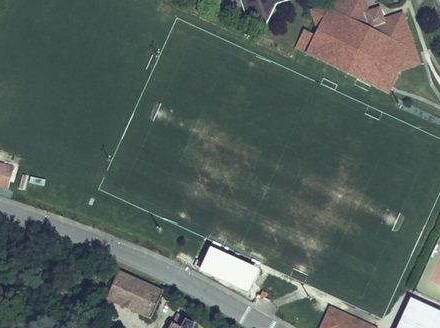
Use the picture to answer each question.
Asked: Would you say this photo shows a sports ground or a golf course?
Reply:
sports ground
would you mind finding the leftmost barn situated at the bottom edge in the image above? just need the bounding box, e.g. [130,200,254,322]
[108,268,161,318]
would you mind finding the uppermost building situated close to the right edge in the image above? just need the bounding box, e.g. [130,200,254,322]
[306,0,420,92]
